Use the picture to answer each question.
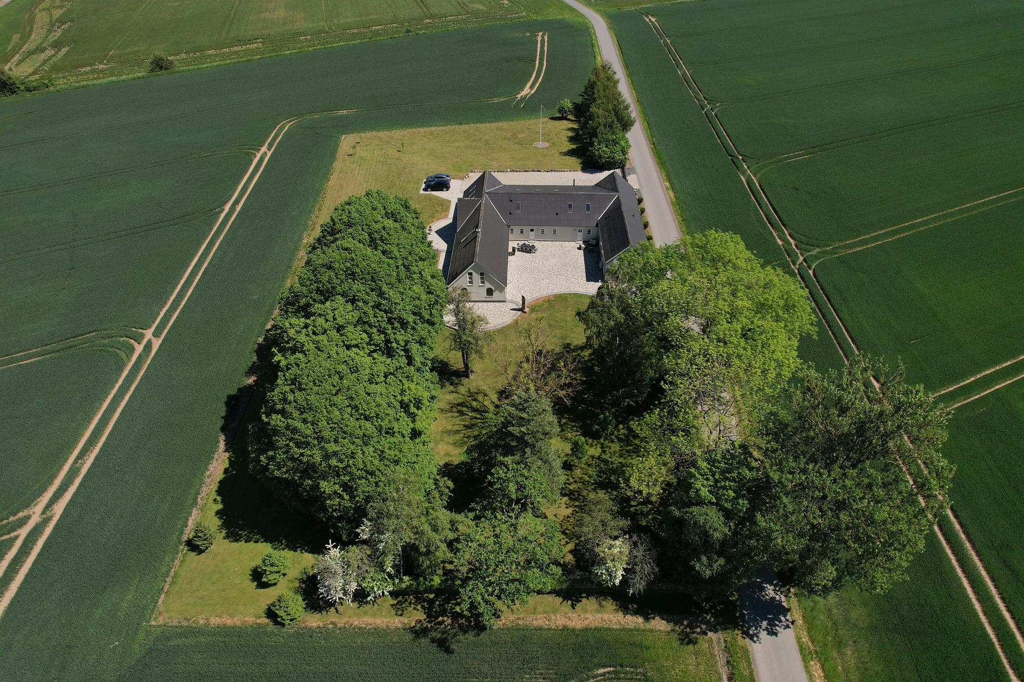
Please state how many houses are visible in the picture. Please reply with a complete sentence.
There is 1 house in the image.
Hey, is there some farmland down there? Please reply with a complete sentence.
Yes, there's farmland in this view.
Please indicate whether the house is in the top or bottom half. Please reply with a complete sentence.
Seen from above, the house lies in the top half of the view.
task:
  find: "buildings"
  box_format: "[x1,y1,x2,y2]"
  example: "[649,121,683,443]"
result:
[446,170,651,301]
